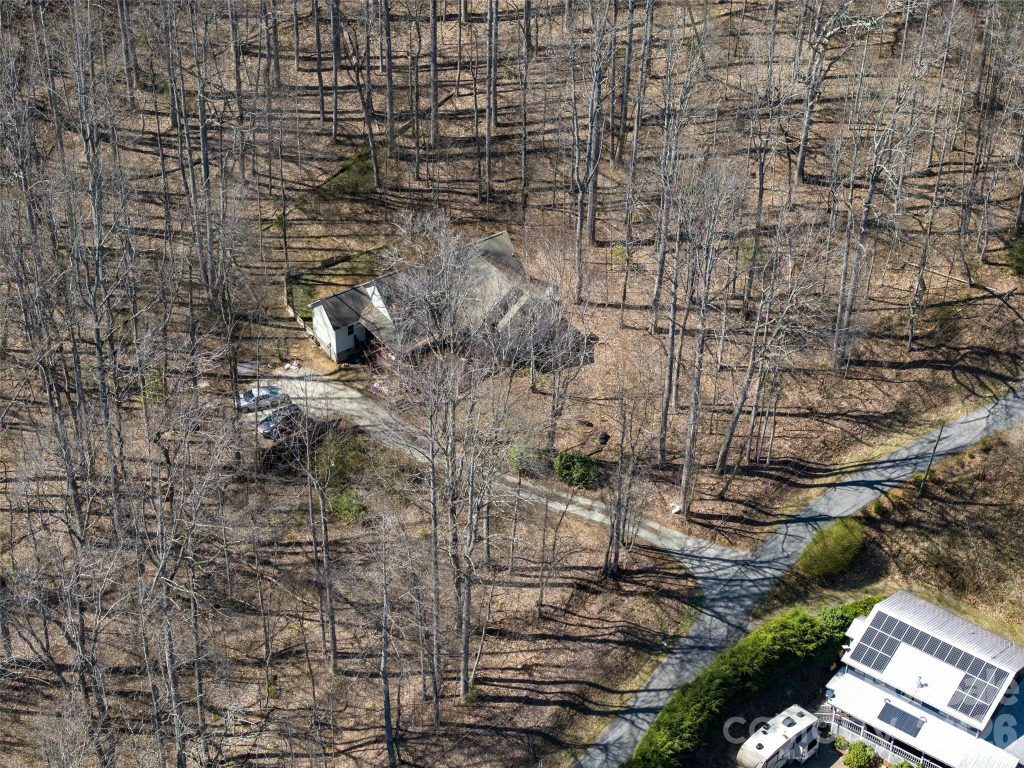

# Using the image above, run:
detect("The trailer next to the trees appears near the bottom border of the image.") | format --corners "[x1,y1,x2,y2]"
[731,704,821,768]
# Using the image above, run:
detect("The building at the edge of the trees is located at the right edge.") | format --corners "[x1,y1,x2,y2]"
[810,589,1024,768]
